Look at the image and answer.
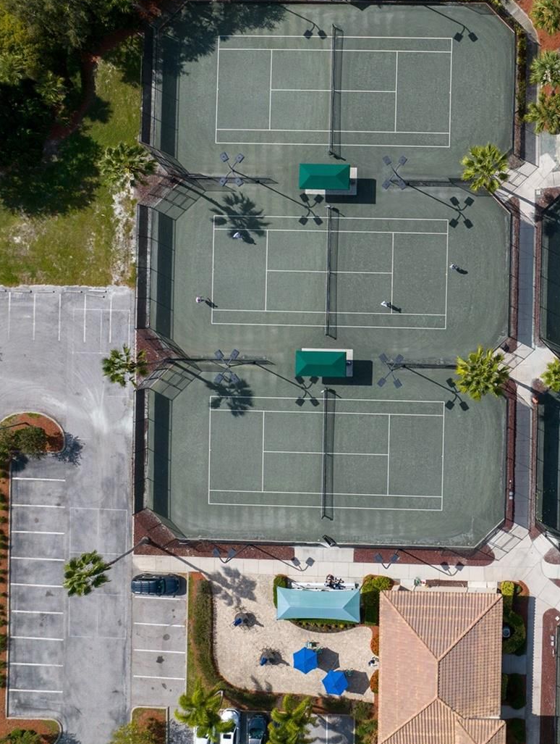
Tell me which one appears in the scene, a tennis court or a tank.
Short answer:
tennis court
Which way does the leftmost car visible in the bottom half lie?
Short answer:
horizontally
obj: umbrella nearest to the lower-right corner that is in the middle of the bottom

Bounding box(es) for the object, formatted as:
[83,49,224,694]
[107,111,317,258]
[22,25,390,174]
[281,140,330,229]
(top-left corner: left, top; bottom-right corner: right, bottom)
[321,669,347,695]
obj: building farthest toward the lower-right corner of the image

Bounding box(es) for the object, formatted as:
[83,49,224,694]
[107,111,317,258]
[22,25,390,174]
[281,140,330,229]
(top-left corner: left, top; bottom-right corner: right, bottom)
[377,585,506,744]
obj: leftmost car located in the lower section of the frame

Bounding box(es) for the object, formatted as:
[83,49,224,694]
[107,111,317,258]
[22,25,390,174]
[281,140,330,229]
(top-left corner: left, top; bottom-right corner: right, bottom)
[133,573,186,598]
